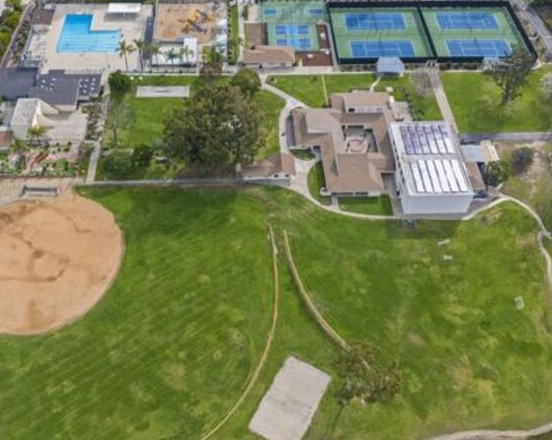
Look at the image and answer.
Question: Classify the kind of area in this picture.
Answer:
sports ground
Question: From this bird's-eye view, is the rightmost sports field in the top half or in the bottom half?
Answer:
bottom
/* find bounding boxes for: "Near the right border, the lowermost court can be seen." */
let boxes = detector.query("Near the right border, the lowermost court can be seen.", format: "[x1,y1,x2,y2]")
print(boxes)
[428,34,534,56]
